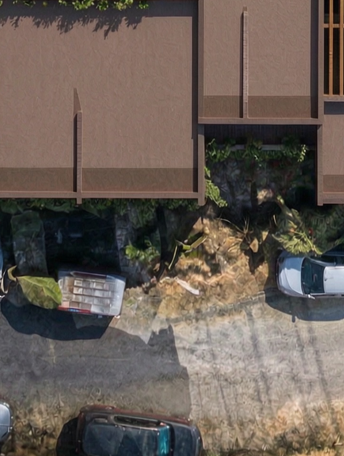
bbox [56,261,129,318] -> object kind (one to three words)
van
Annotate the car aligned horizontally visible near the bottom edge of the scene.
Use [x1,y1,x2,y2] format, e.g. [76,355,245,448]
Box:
[77,399,201,456]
